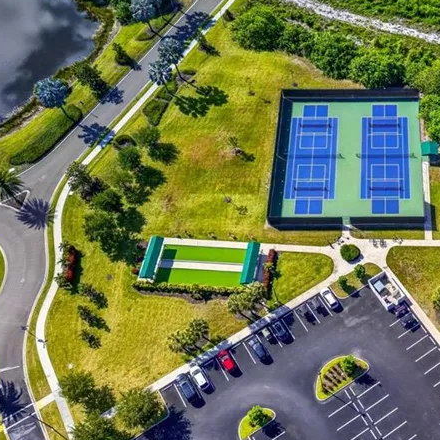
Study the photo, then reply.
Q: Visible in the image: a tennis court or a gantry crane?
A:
tennis court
